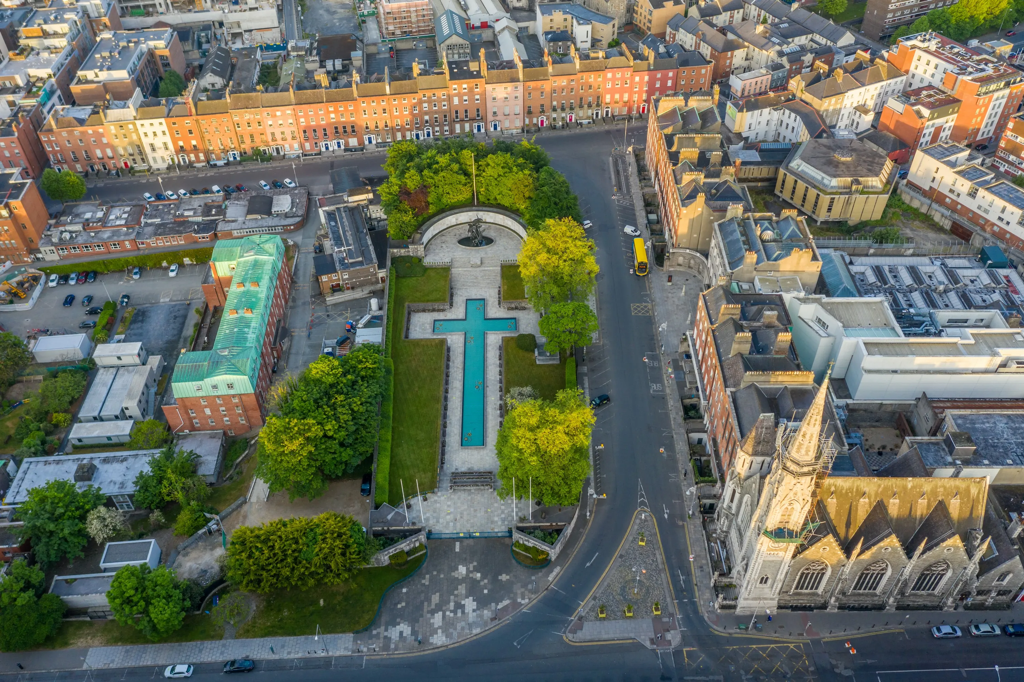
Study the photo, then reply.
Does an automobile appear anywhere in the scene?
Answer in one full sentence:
Yes, the picture does show an automobile.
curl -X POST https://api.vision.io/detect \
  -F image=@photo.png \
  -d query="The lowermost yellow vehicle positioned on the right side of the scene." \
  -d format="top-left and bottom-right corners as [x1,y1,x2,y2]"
[632,239,649,278]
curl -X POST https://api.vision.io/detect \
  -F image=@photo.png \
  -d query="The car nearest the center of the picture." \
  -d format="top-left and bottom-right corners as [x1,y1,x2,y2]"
[590,394,612,408]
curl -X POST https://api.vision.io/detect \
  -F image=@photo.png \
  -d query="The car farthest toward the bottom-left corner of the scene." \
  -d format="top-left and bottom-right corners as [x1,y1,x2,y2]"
[163,664,194,680]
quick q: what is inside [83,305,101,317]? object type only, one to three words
vehicle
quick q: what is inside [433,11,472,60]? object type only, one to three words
building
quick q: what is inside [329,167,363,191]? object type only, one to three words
shed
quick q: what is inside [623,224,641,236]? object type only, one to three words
vehicle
